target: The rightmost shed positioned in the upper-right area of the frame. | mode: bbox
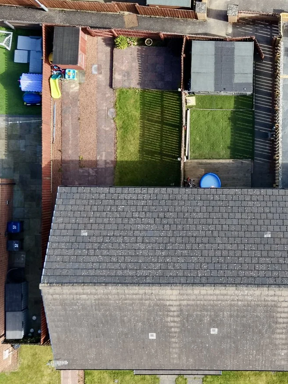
[190,39,254,97]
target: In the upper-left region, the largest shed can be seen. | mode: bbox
[51,26,86,68]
